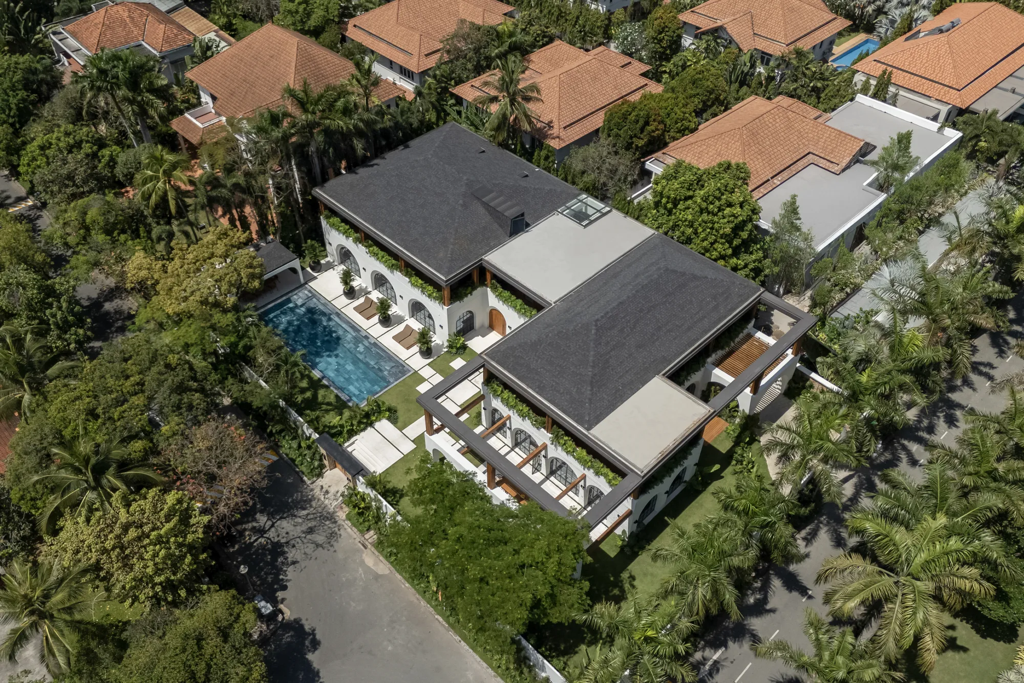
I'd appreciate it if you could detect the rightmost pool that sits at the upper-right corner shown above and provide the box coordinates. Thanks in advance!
[827,32,881,74]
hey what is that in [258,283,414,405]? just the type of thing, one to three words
swimming pool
